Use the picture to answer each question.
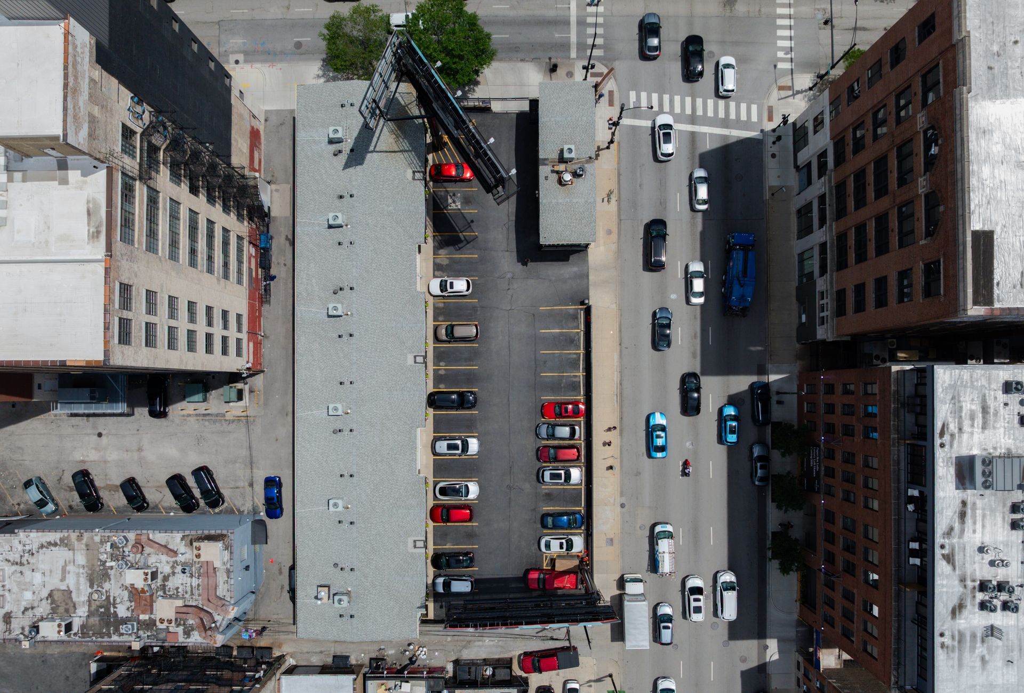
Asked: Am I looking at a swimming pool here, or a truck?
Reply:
truck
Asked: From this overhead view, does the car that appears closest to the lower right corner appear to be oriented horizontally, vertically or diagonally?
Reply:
vertically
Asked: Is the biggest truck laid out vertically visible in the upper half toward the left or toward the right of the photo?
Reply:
right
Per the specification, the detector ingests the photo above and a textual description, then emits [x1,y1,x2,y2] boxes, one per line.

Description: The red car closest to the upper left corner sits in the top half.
[429,162,473,184]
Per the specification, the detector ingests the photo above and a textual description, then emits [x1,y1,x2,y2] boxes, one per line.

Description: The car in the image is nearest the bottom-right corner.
[715,571,739,620]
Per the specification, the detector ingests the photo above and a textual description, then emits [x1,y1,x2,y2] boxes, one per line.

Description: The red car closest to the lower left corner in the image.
[430,504,474,525]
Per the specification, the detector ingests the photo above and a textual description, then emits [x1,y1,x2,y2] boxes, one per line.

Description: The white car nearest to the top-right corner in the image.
[715,57,737,99]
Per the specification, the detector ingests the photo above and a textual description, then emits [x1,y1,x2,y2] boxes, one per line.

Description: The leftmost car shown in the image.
[24,474,60,514]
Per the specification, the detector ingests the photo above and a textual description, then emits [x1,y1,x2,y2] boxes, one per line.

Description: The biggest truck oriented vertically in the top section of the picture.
[725,227,759,316]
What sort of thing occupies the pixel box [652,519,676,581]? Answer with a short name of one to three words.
vehicle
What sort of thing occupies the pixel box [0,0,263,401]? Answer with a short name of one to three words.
building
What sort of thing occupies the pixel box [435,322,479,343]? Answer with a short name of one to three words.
car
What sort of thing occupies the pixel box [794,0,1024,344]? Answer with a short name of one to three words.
building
